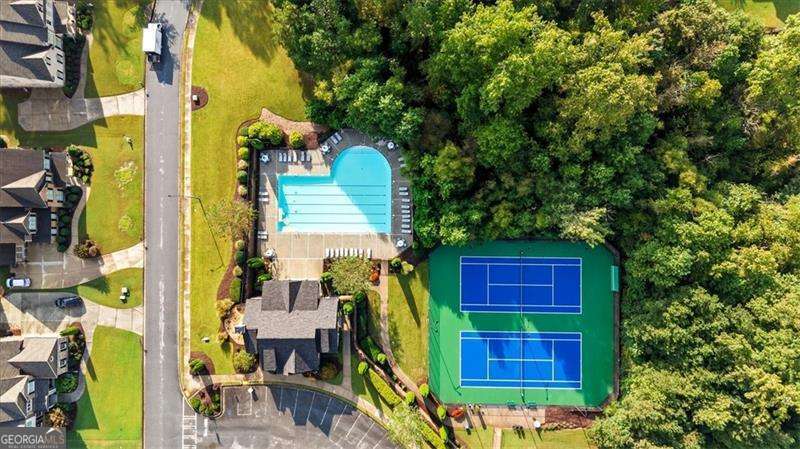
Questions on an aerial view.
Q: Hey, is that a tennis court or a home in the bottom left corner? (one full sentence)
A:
Visible in the bottom left corner is a home.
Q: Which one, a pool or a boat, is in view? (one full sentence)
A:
The image shows a pool.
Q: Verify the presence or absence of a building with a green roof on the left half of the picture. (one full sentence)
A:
No, I can find no building with a green roof on the left half of the picture.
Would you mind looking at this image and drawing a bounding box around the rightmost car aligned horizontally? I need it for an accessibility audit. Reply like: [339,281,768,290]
[55,296,80,308]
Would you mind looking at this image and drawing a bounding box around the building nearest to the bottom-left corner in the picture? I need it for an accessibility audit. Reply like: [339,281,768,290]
[0,336,67,449]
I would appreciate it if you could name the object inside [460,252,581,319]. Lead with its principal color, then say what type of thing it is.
blue tennis court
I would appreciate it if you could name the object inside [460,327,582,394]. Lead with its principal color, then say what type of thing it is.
blue tennis court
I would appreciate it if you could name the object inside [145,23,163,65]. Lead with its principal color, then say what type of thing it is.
white vehicle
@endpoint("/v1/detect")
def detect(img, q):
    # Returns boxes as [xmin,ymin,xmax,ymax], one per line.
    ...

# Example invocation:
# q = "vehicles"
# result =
[55,296,80,308]
[145,23,163,65]
[4,277,28,289]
